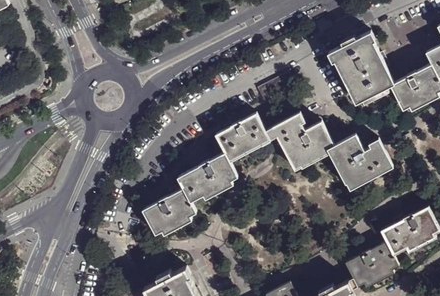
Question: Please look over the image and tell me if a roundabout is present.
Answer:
Yes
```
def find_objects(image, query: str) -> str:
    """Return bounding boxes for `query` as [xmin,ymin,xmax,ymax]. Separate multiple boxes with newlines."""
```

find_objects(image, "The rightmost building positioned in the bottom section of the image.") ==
[380,206,440,257]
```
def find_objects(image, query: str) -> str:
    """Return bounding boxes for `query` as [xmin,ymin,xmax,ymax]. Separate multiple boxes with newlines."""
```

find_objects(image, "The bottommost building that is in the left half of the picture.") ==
[142,270,198,296]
